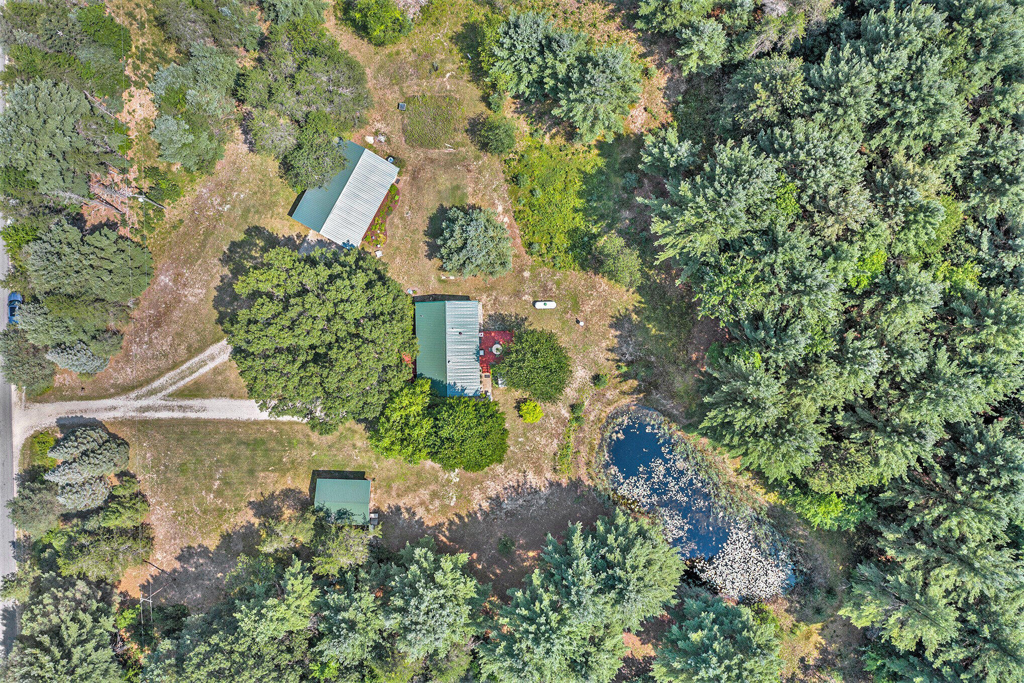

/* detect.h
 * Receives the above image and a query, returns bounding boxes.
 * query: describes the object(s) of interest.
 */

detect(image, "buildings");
[291,134,400,253]
[314,477,372,525]
[414,300,480,398]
